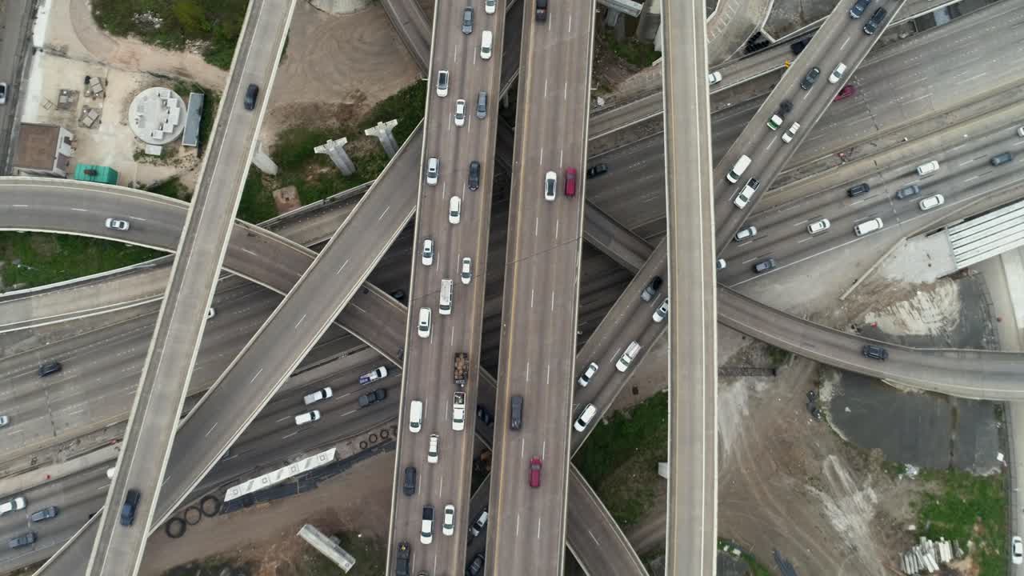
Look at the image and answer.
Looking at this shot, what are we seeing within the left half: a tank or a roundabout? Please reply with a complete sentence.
The one visible within the left half is a tank.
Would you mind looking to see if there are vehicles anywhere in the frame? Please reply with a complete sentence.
Yes, the frame does contain a vehicle.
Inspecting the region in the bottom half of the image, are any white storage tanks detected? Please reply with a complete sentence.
No, there is no white storage tank in the bottom half of the image.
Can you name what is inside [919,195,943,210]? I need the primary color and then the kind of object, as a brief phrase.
white car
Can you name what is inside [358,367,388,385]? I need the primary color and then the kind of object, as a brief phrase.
white vehicle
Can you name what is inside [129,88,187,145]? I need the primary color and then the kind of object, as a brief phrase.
white storage tank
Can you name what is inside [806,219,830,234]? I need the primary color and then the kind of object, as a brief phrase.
white car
